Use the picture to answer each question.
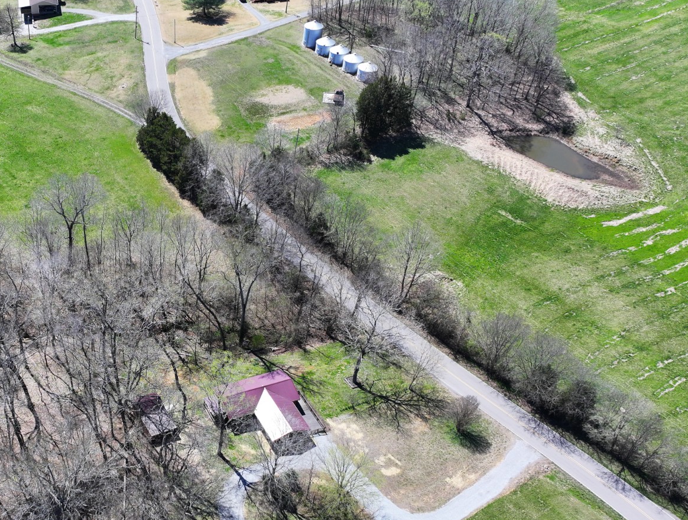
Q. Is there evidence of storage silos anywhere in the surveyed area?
Yes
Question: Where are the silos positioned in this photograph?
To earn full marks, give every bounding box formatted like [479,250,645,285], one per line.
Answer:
[342,51,365,74]
[327,44,350,67]
[301,19,324,51]
[356,60,379,84]
[314,35,337,58]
